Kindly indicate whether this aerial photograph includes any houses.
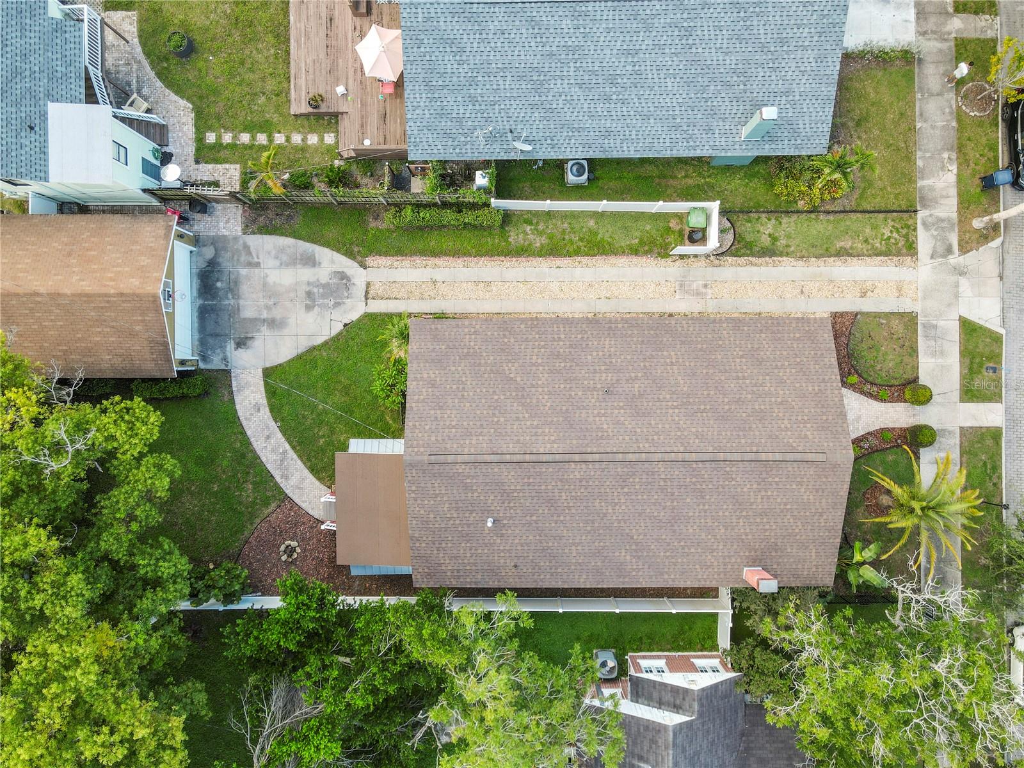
Yes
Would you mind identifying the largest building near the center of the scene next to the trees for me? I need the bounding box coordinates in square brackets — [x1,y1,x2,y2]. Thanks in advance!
[335,312,855,594]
